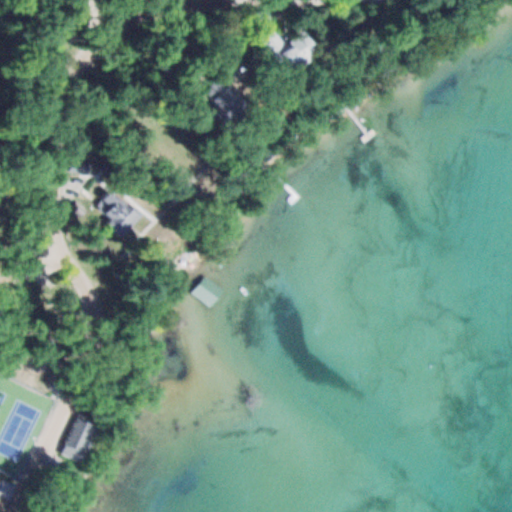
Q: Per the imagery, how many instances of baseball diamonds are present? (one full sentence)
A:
There are no baseball diamonds in the image.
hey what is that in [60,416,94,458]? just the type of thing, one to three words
house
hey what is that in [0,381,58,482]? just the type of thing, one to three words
tennis court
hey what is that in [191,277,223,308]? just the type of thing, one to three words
building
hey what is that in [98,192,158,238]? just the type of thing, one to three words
house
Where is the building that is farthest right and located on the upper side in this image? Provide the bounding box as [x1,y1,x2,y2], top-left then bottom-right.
[286,34,315,63]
